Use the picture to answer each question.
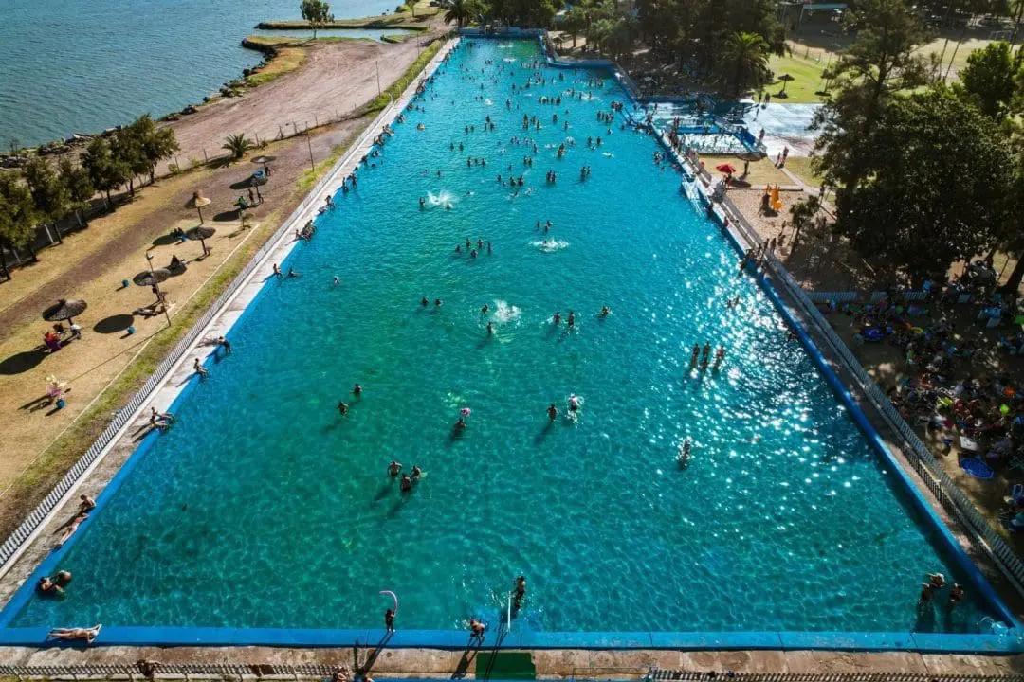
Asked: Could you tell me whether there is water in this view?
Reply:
Yes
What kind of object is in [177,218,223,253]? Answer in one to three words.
umbrella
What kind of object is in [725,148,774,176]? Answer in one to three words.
umbrella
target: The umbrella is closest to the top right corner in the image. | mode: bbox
[814,67,839,90]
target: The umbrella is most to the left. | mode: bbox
[28,292,92,333]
